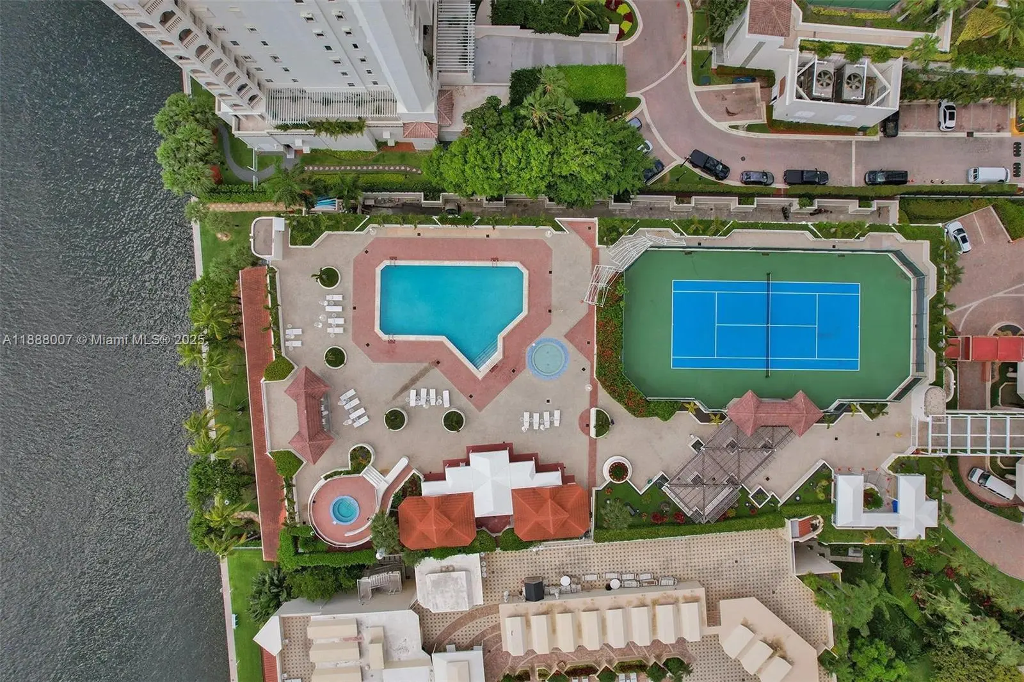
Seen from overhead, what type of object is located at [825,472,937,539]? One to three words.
building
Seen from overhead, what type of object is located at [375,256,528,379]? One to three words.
swimming pool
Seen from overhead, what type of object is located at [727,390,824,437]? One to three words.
building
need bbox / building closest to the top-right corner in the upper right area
[724,0,796,125]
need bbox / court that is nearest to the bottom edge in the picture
[623,249,909,410]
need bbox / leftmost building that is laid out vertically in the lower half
[284,367,334,465]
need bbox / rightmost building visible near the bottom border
[712,589,818,682]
